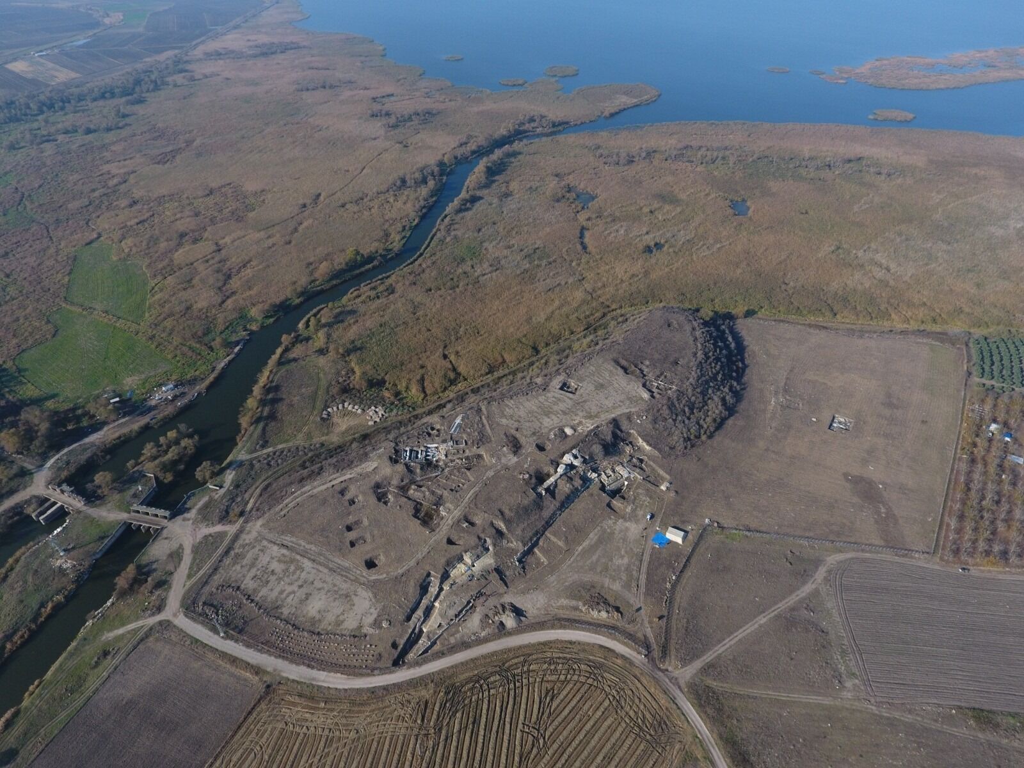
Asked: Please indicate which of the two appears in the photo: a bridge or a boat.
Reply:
bridge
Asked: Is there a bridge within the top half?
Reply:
No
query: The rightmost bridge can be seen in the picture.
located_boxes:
[124,503,173,535]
